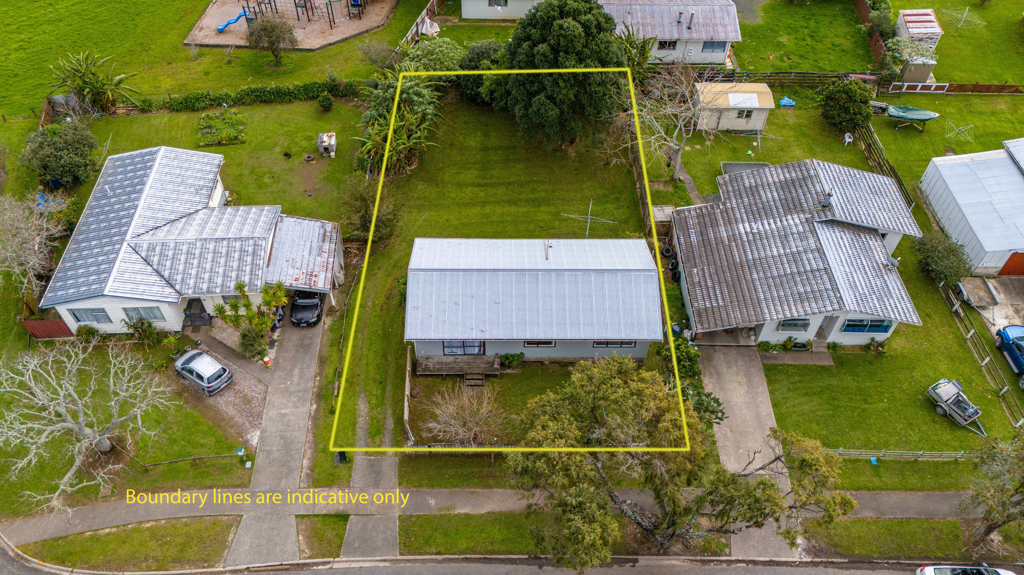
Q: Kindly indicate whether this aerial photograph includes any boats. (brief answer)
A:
Yes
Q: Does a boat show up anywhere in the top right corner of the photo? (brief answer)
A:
Yes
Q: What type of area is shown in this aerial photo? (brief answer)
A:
residential area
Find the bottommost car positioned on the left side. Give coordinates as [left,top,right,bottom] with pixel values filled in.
[170,345,235,398]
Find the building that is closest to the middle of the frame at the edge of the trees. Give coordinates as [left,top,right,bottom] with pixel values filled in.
[403,234,664,359]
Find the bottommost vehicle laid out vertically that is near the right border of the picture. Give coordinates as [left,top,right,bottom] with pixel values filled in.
[993,320,1024,395]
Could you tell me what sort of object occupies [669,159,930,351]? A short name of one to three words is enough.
house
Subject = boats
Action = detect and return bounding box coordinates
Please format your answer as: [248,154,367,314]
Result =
[886,103,941,132]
